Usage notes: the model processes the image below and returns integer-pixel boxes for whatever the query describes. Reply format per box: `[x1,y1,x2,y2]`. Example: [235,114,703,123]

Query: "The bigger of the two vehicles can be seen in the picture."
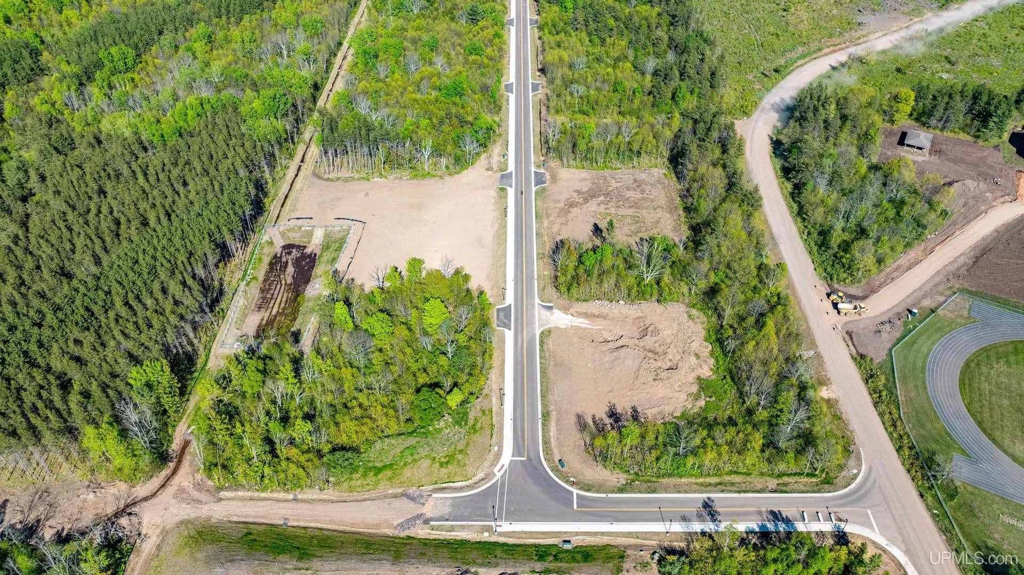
[839,301,871,314]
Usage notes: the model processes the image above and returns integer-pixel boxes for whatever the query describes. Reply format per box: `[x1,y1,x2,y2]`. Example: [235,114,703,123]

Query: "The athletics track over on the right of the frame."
[922,298,1024,504]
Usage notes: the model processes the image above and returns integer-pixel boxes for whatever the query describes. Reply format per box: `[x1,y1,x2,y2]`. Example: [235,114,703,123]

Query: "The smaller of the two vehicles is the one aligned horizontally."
[827,291,852,303]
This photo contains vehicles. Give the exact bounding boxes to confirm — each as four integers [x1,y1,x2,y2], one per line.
[839,301,871,314]
[827,291,852,303]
